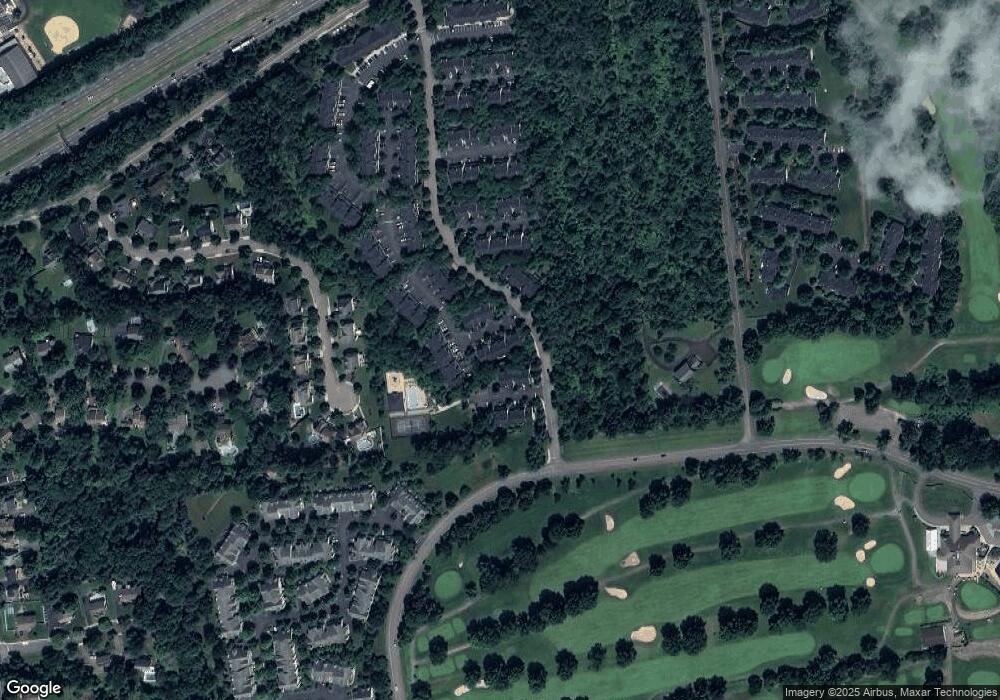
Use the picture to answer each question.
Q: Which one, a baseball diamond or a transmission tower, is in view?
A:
baseball diamond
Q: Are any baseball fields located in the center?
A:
No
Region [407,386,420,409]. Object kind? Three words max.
swimming pool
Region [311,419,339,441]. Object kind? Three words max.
house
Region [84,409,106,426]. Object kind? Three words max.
house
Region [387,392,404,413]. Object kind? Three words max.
building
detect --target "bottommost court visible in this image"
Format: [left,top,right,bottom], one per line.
[391,414,430,437]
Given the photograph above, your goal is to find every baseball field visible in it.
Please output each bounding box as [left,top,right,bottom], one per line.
[44,16,79,56]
